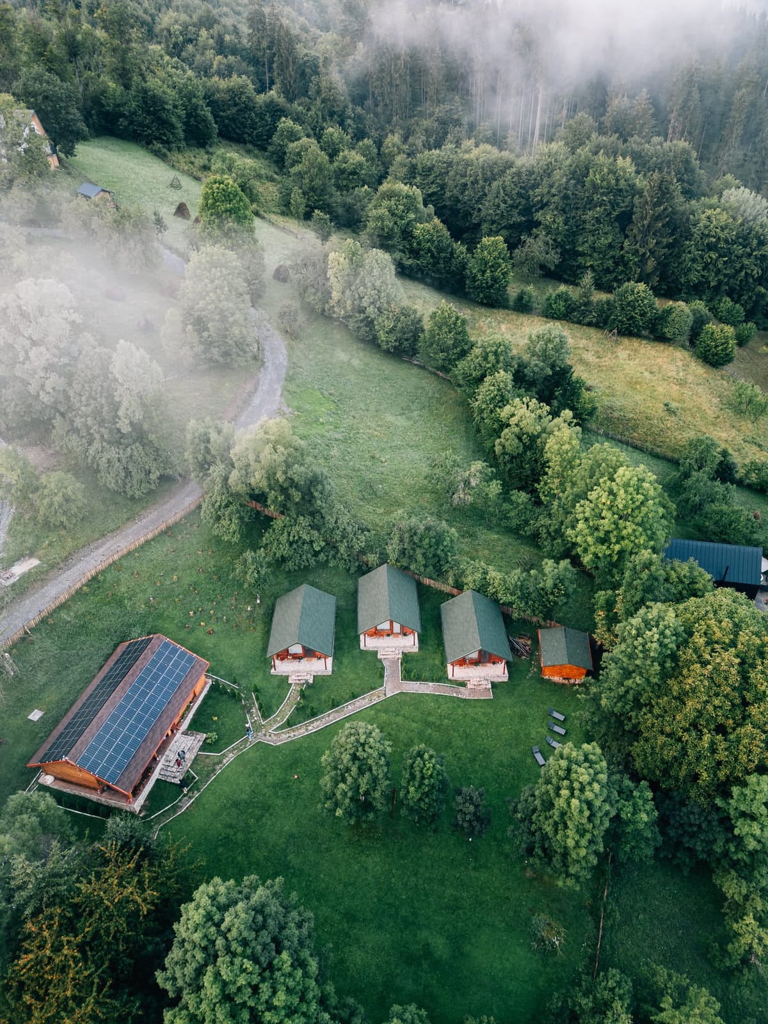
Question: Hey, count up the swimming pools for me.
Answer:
0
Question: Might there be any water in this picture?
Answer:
No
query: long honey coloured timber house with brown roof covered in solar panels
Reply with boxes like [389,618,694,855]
[25,633,213,812]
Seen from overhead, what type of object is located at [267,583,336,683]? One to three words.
building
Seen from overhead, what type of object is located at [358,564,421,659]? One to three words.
building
